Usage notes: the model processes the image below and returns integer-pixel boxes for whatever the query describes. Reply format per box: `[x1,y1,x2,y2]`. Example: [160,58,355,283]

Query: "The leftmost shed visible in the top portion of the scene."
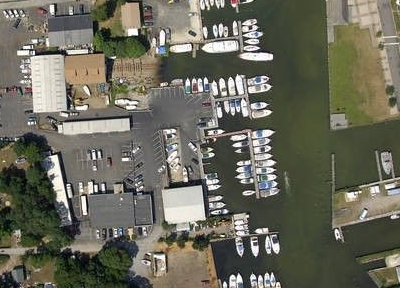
[32,55,66,112]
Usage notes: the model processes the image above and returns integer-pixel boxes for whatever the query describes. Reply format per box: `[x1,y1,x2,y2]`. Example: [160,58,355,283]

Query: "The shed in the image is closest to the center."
[161,185,205,223]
